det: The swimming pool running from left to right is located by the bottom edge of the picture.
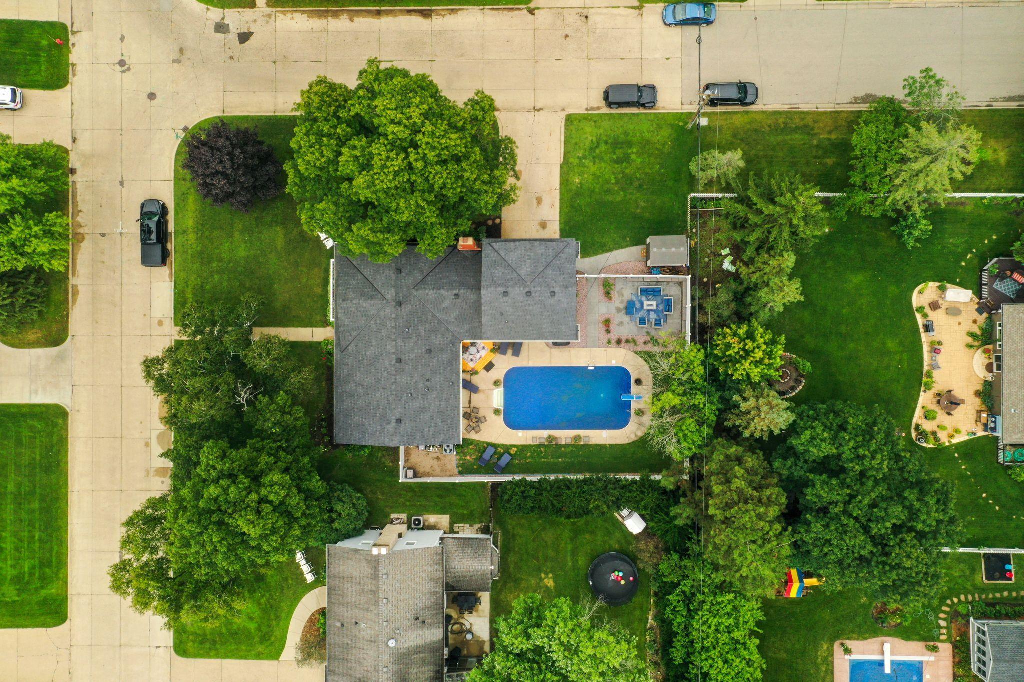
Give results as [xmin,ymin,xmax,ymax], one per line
[850,660,925,682]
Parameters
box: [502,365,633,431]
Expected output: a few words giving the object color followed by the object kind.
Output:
blue swimming pool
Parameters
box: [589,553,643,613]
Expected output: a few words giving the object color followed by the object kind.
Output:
black trampoline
